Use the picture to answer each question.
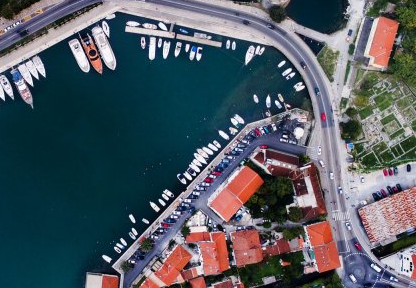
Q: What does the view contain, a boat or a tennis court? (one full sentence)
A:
I can see a boat in this picture.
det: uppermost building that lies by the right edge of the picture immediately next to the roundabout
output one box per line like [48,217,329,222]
[353,186,416,245]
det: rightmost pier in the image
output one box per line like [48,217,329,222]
[175,34,222,48]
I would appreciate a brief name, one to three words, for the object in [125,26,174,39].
pier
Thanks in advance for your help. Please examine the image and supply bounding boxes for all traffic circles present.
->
[337,252,377,288]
